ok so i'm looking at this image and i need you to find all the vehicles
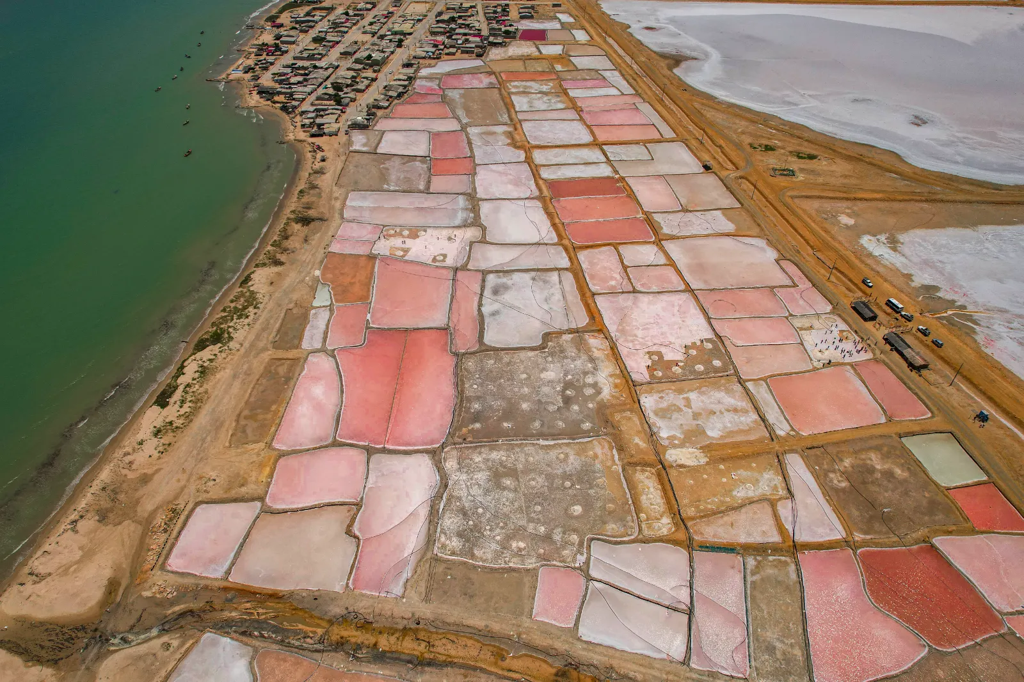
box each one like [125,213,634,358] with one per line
[862,279,874,289]
[917,326,933,337]
[886,299,906,314]
[931,339,946,349]
[900,312,915,322]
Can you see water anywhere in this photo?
Yes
